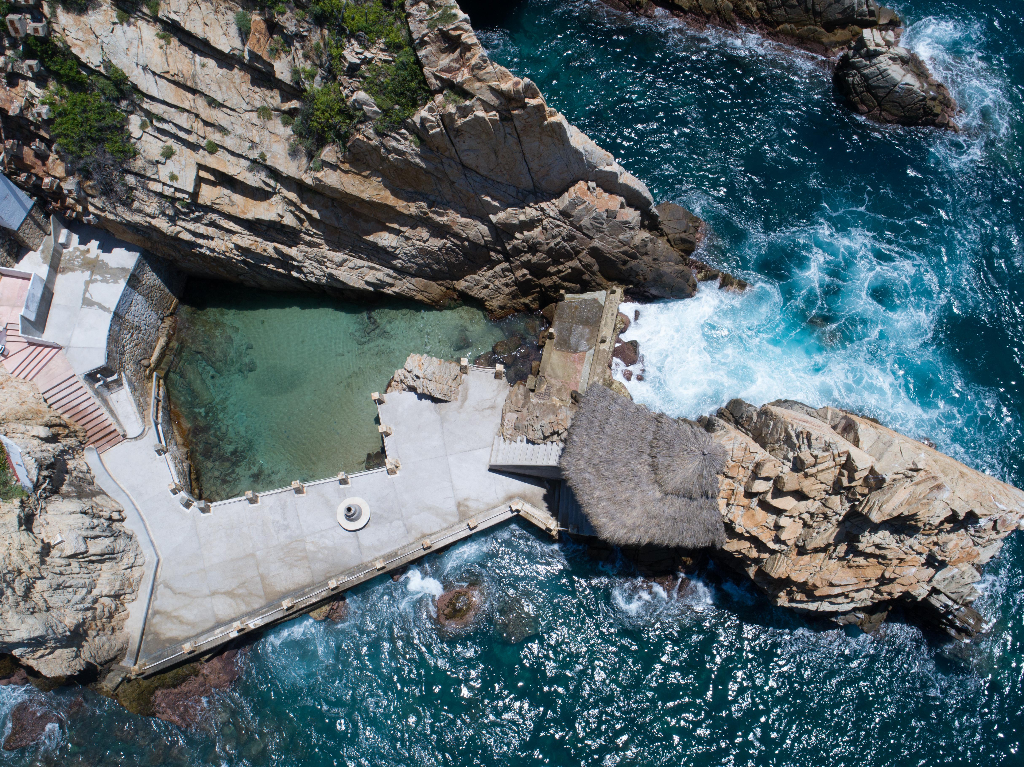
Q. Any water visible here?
Yes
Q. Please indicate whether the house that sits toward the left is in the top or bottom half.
top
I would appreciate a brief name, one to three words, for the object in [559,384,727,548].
shed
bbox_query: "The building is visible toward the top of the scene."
[0,174,84,277]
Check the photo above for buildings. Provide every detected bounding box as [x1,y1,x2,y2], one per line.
[559,384,727,548]
[0,174,84,277]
